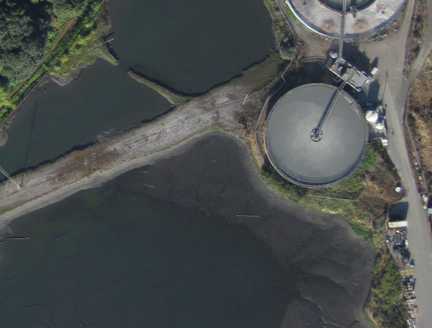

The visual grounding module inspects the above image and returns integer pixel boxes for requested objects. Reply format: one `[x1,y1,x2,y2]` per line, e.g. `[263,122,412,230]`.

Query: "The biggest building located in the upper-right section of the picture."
[327,57,370,93]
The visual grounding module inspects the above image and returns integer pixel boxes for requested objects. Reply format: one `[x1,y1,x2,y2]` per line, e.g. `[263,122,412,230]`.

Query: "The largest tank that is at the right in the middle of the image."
[262,81,369,187]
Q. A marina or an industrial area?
industrial area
